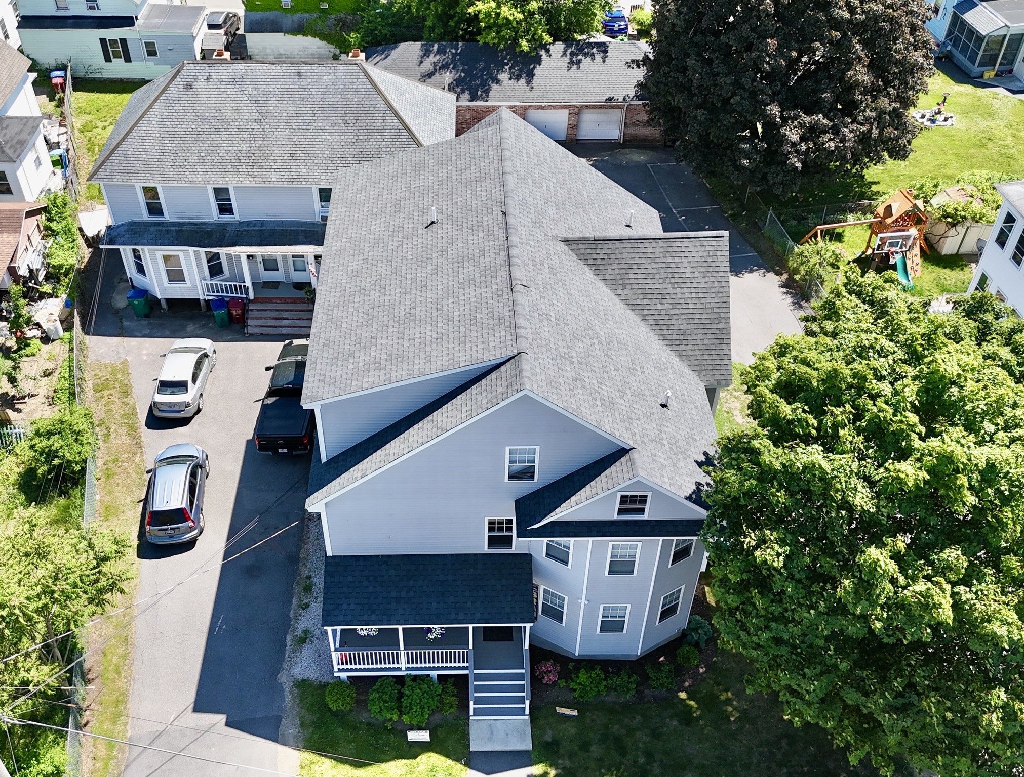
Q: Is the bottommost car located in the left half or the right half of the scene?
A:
left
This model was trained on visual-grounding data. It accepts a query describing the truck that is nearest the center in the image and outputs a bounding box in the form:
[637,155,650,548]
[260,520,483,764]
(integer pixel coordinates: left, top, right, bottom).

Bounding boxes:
[254,339,315,454]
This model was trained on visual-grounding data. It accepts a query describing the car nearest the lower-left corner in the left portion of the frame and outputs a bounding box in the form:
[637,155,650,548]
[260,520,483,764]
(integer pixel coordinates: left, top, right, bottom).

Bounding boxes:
[146,441,212,542]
